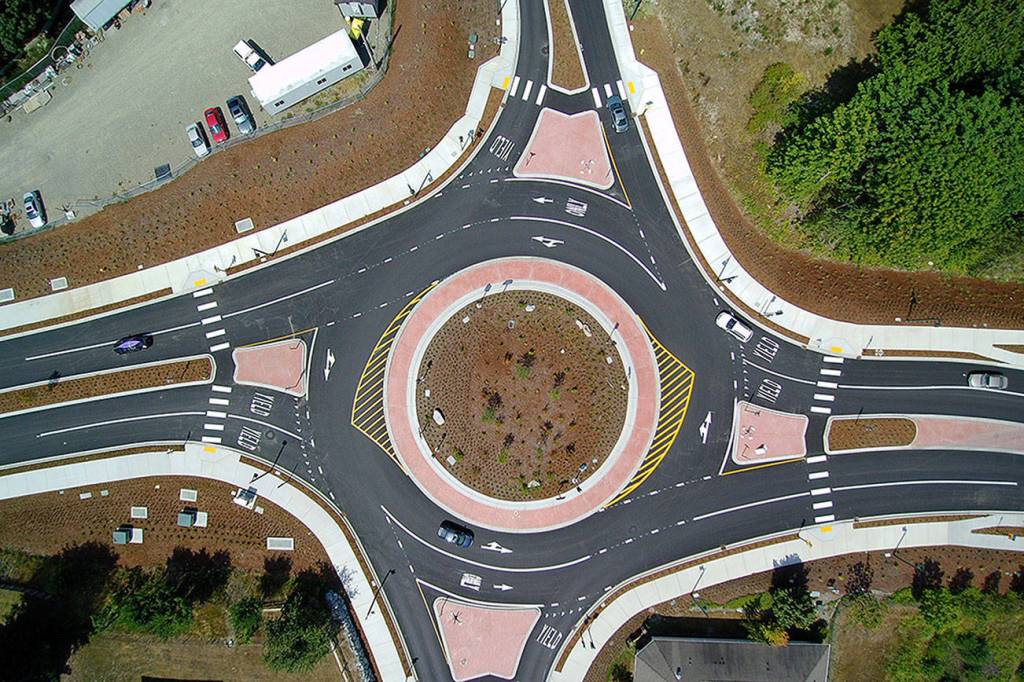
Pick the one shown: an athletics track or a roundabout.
roundabout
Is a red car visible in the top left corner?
Yes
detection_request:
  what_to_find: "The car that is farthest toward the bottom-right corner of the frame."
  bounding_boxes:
[967,373,1010,390]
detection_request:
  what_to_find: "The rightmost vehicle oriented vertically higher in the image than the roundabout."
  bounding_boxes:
[608,95,629,133]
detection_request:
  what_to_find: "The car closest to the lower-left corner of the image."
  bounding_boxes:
[112,334,150,354]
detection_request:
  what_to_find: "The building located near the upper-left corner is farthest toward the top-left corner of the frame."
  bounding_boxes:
[71,0,133,40]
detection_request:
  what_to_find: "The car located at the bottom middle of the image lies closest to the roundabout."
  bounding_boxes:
[437,524,474,548]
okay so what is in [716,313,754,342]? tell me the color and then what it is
white car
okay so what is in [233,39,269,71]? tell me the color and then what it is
white truck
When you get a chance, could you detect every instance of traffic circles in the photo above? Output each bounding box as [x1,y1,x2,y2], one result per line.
[383,256,661,533]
